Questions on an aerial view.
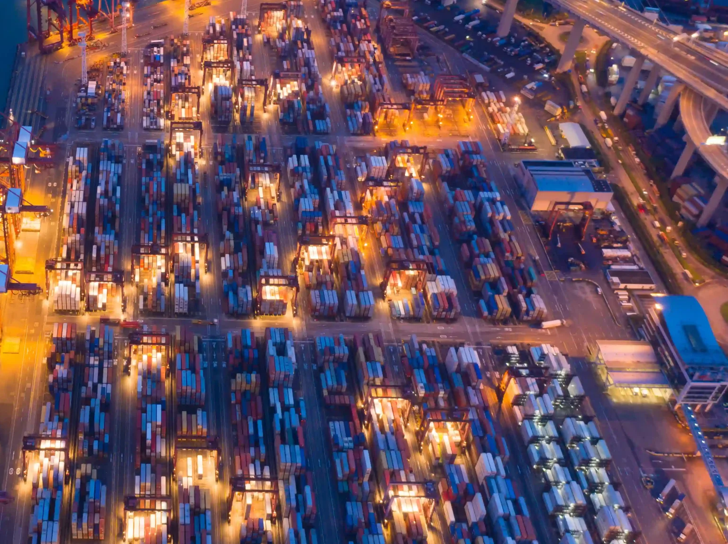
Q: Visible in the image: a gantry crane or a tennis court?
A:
gantry crane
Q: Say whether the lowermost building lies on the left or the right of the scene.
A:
right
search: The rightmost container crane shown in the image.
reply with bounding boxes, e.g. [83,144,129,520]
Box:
[544,199,593,235]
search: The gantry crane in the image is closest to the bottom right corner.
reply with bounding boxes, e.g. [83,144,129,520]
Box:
[497,364,555,403]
